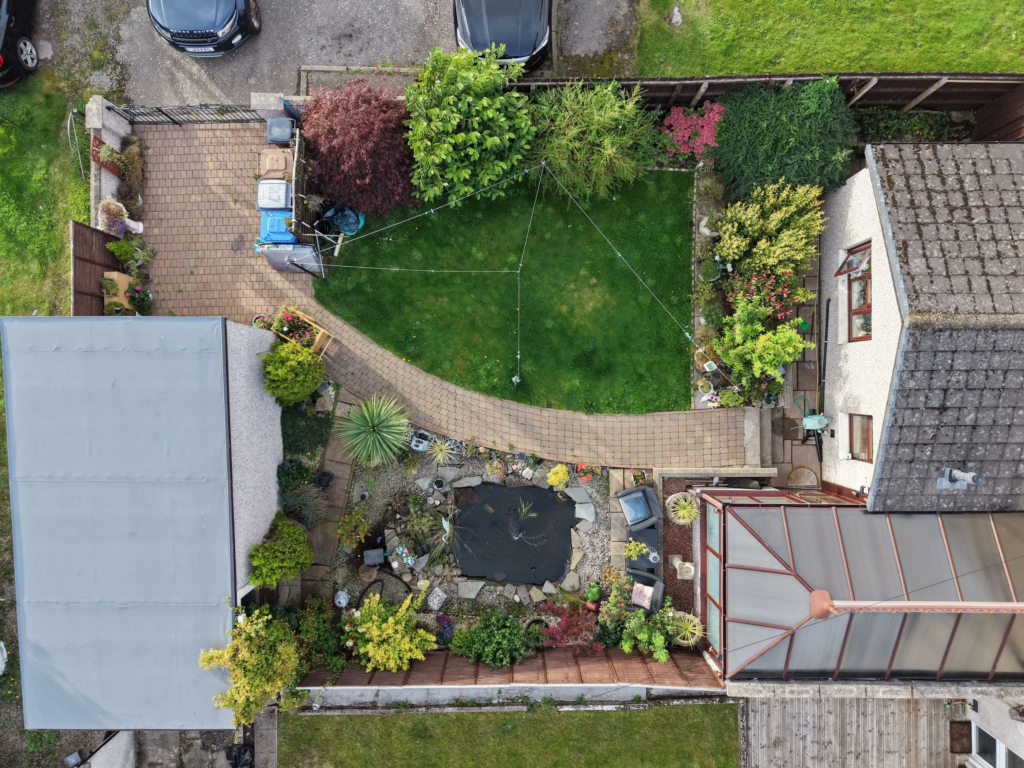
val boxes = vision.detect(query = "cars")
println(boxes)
[452,0,553,78]
[149,0,268,60]
[0,0,41,99]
